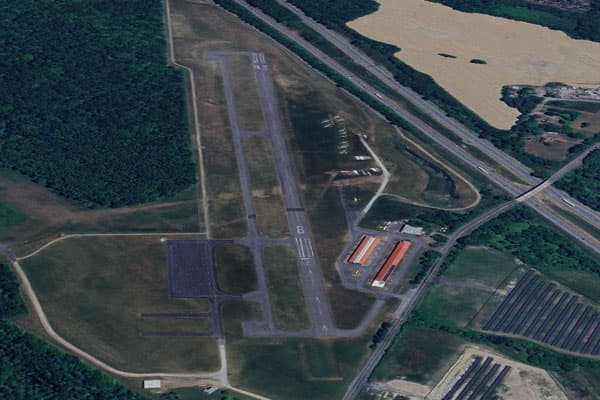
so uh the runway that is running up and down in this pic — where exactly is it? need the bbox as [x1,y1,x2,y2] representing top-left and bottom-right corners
[251,53,334,333]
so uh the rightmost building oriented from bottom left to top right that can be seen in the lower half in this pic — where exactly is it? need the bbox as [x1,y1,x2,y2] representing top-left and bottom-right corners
[373,240,411,291]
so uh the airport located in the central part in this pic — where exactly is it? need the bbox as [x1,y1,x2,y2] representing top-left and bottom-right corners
[139,52,435,340]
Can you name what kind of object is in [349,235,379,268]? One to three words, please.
hangar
